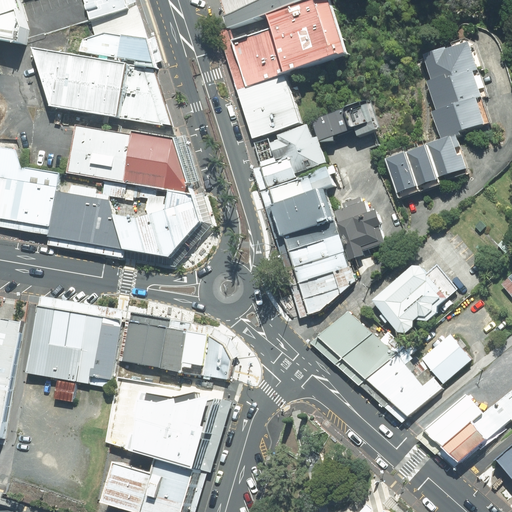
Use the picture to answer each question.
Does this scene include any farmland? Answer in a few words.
No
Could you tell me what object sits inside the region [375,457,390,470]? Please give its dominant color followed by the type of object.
white vehicle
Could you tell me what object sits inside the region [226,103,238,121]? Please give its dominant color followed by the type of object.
white vehicle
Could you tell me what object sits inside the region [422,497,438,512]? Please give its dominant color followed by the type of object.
white car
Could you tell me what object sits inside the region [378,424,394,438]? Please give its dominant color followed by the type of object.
white car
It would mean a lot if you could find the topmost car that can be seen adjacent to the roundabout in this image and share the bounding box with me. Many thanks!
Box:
[197,265,214,277]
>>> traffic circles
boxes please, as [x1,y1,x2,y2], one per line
[213,273,244,304]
